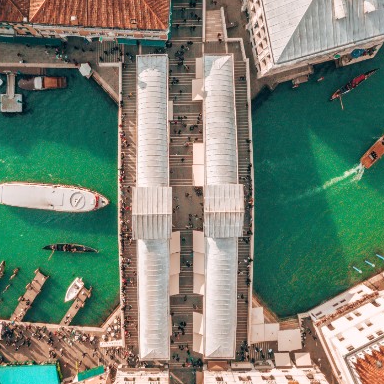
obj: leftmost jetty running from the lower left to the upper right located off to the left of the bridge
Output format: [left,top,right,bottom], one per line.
[6,268,49,322]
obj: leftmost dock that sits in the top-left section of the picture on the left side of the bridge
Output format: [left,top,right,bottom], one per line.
[0,68,24,113]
